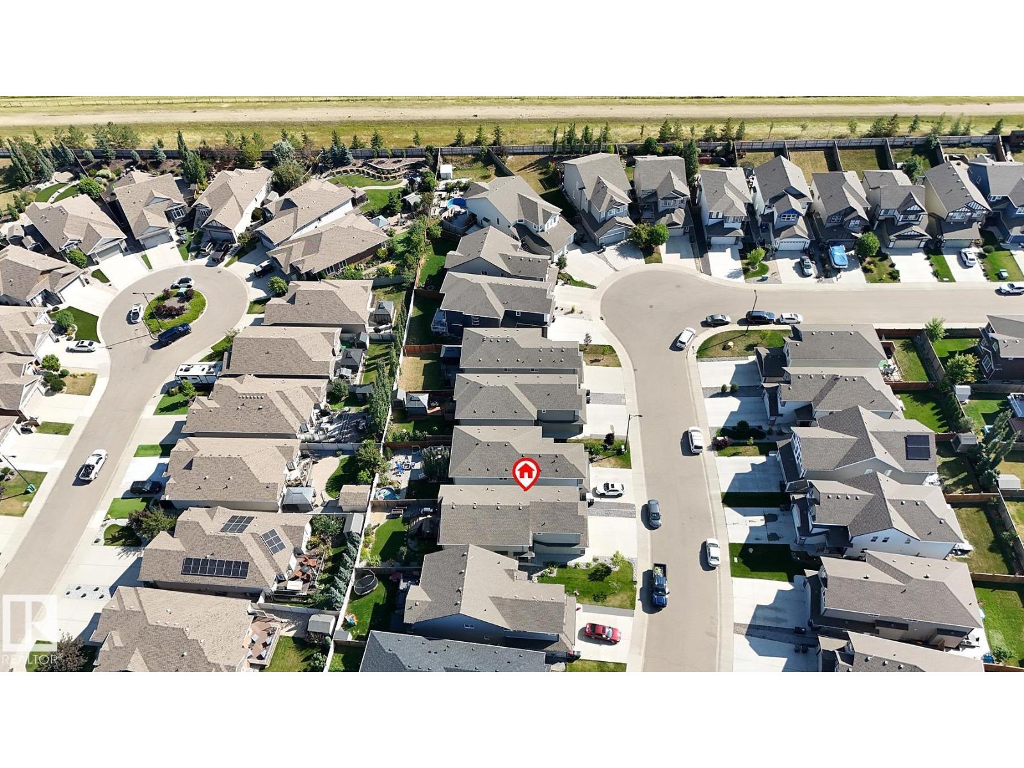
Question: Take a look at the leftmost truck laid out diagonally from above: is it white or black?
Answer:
white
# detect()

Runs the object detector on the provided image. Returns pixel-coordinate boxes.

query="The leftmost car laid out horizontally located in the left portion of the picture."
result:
[67,340,97,353]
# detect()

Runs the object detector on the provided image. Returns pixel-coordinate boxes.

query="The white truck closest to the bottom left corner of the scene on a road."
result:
[75,449,111,483]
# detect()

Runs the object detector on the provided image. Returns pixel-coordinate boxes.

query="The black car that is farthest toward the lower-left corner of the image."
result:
[128,478,163,495]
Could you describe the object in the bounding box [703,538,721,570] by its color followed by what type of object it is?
white car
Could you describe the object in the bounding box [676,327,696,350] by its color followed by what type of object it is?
white vehicle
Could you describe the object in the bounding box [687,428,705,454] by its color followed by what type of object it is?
white car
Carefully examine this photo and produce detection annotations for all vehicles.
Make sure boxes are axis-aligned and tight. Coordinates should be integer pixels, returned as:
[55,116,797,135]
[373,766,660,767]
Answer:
[170,274,197,290]
[644,498,662,529]
[703,313,732,327]
[746,310,775,324]
[676,327,696,350]
[197,238,217,257]
[593,481,627,499]
[251,258,274,275]
[777,312,804,324]
[208,241,231,262]
[703,538,721,570]
[799,256,814,275]
[687,428,705,454]
[156,323,194,344]
[583,621,622,645]
[67,340,97,353]
[651,563,669,609]
[130,304,145,324]
[958,248,977,267]
[75,449,111,483]
[128,478,163,495]
[997,282,1024,296]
